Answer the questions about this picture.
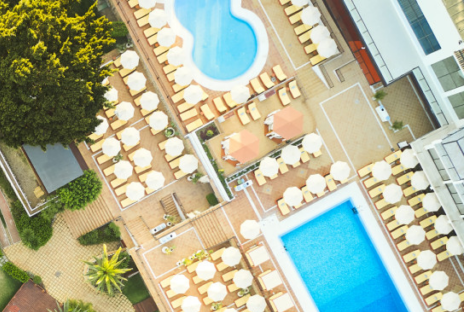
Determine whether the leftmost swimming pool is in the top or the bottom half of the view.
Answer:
top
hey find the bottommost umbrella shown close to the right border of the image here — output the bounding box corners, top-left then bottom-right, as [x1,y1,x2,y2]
[437,291,459,311]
